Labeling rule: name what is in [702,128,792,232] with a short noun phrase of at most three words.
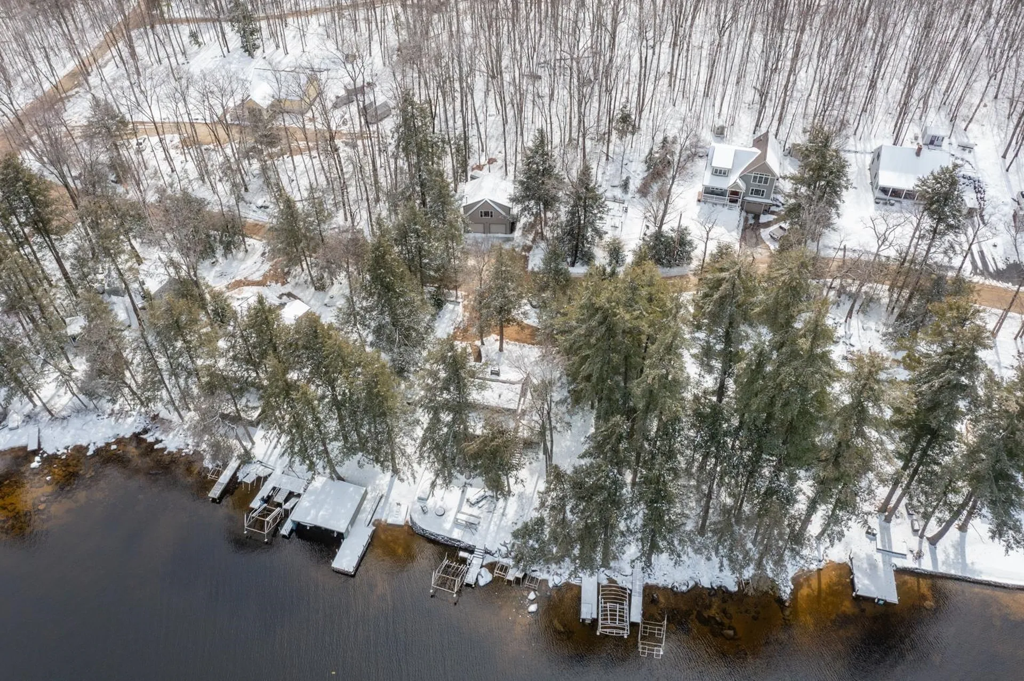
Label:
house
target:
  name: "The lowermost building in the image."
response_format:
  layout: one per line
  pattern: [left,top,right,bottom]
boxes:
[292,476,371,540]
